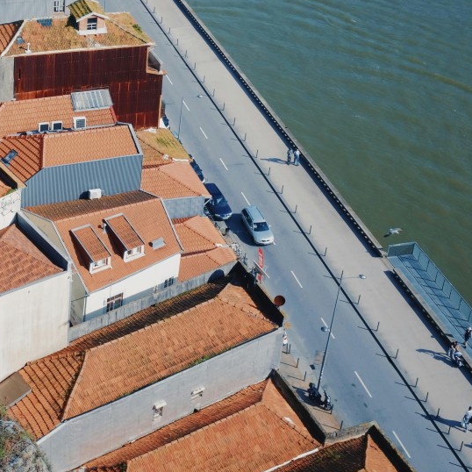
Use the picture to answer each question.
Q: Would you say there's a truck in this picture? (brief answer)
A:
No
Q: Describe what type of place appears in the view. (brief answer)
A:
residential area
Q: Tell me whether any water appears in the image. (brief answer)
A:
Yes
